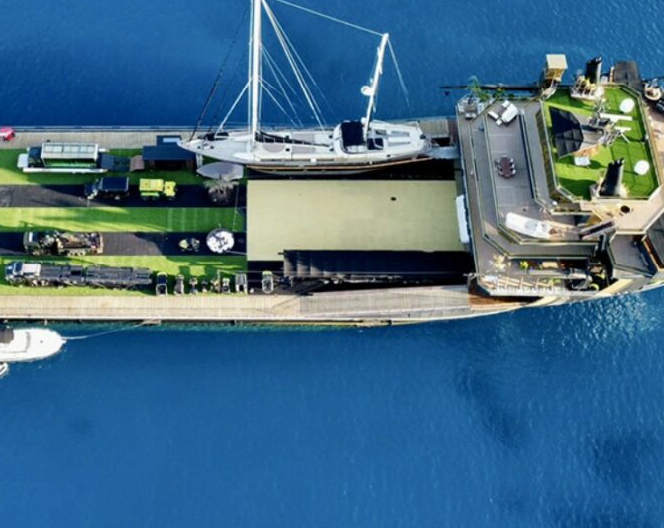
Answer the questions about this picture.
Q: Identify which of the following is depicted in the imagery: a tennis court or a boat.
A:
boat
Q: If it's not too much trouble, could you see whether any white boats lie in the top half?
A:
Yes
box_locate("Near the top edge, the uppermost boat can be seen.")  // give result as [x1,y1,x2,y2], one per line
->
[180,0,431,176]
